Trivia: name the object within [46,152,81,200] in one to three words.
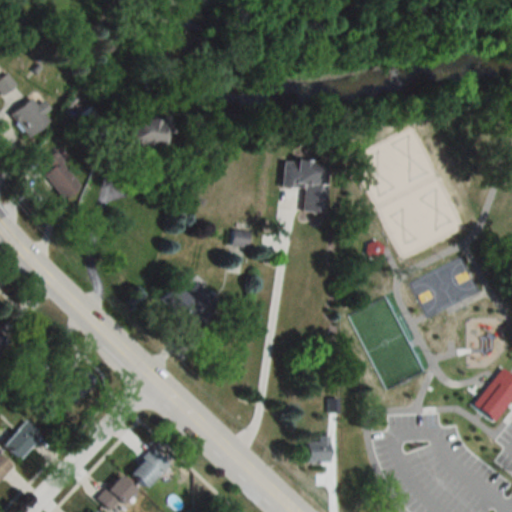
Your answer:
house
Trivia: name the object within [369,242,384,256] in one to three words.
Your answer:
gazebo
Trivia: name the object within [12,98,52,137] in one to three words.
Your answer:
house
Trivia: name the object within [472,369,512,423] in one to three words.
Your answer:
building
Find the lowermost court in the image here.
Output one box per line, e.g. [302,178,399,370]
[410,258,480,318]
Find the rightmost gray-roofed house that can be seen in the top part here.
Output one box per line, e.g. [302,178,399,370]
[285,158,326,211]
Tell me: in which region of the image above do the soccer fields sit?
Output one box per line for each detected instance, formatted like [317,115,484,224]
[349,296,424,390]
